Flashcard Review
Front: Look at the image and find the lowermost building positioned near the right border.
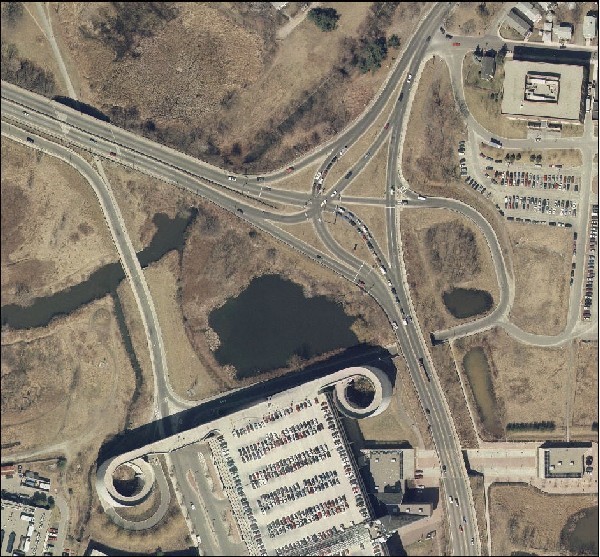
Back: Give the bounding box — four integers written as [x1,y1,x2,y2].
[537,447,584,477]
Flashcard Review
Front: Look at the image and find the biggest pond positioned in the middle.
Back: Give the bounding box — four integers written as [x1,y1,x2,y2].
[209,272,357,378]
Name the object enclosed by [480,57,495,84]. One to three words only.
house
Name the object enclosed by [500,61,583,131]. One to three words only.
building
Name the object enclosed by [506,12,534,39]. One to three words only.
house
